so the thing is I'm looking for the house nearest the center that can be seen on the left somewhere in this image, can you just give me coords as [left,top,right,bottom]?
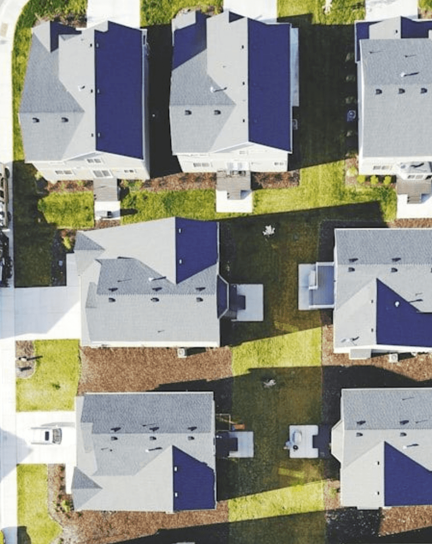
[74,216,230,350]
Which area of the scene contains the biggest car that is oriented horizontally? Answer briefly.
bottom left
